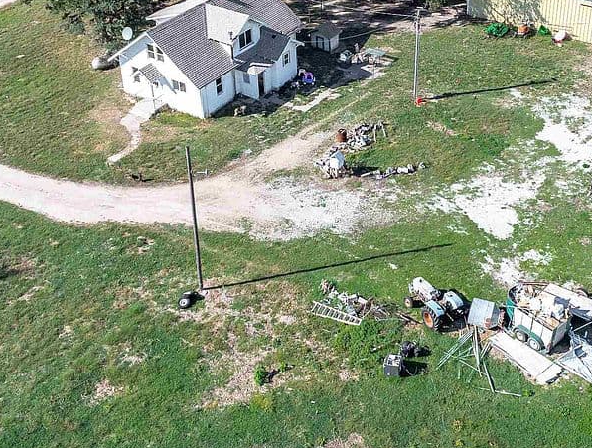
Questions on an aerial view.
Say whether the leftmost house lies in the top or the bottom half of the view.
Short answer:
top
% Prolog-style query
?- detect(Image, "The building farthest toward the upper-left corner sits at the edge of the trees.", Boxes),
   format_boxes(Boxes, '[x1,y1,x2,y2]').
[108,0,304,117]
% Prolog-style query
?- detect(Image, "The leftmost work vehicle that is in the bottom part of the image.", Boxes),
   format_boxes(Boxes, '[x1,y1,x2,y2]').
[410,276,474,335]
